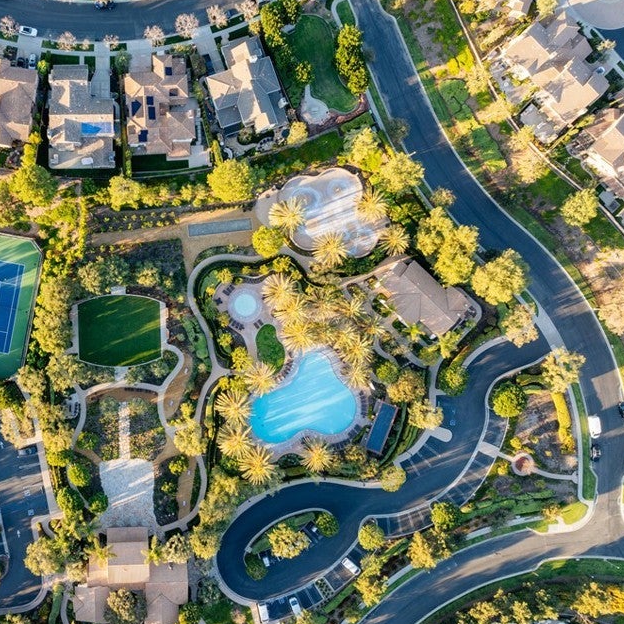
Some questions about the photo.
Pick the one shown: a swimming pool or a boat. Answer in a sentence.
This aerial view contains a swimming pool.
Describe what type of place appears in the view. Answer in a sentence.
The picture captures a residential area.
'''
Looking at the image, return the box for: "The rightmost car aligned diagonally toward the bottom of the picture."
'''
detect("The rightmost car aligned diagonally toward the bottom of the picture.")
[344,559,360,576]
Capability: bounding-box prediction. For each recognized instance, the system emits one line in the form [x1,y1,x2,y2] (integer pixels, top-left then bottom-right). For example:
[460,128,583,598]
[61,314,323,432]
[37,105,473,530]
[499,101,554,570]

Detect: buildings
[49,62,115,169]
[203,34,291,135]
[364,401,397,454]
[74,523,189,624]
[0,58,39,151]
[126,54,195,157]
[488,11,615,132]
[573,85,624,196]
[474,0,529,18]
[372,259,471,336]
